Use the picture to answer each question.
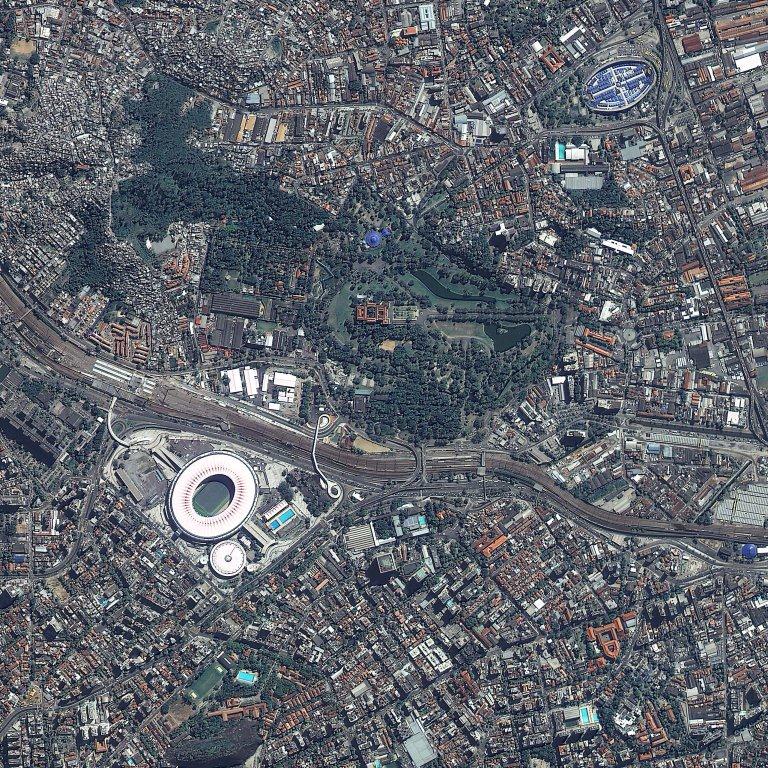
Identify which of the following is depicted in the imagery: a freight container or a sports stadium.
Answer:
sports stadium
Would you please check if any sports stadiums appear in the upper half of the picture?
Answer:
No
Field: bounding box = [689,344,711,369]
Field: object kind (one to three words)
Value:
building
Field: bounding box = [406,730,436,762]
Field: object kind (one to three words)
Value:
building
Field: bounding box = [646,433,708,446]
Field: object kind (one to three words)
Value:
shed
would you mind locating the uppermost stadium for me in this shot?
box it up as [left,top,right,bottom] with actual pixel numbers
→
[154,443,270,544]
